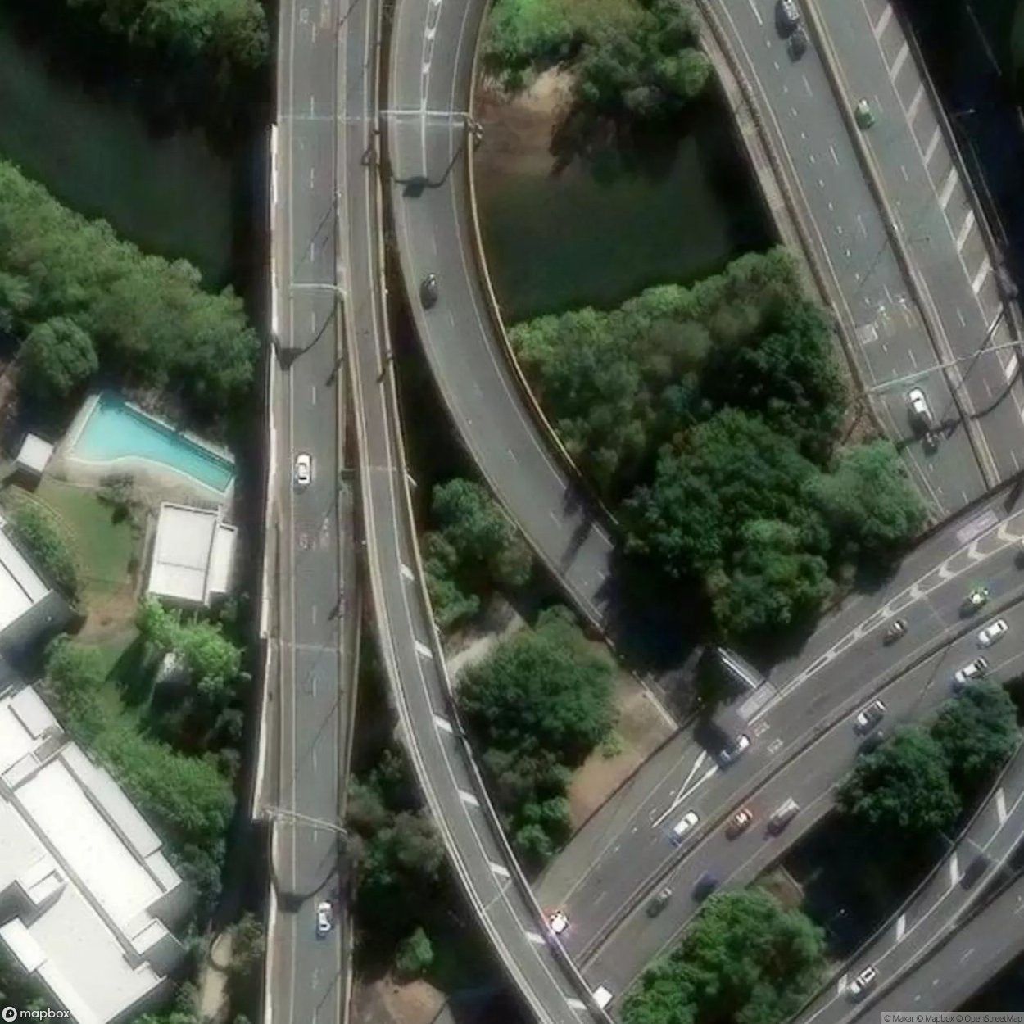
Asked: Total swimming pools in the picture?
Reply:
1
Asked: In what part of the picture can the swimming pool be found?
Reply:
left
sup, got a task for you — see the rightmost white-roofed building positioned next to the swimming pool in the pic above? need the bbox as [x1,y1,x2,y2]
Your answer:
[147,501,246,611]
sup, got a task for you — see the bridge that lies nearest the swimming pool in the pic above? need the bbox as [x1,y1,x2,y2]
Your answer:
[265,0,369,1024]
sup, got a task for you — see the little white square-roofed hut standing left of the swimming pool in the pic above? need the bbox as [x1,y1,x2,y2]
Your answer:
[17,433,57,475]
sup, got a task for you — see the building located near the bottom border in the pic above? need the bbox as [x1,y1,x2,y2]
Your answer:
[0,686,209,1024]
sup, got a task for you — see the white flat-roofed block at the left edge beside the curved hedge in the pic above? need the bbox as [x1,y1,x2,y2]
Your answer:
[0,518,78,672]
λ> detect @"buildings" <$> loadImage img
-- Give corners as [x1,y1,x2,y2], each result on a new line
[0,686,209,1024]
[0,518,78,672]
[17,433,57,475]
[147,501,246,611]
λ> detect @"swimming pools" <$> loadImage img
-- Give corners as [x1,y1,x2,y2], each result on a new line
[51,389,240,524]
